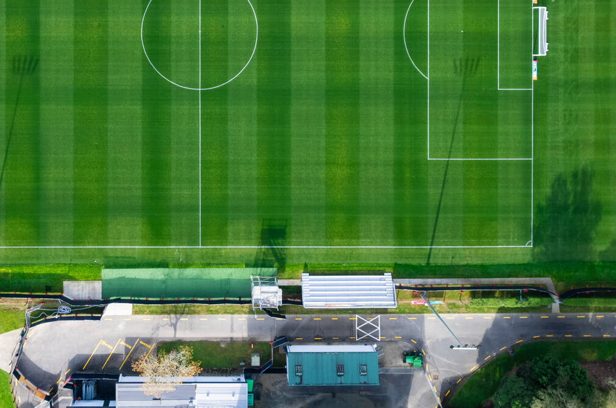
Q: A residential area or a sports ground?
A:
sports ground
